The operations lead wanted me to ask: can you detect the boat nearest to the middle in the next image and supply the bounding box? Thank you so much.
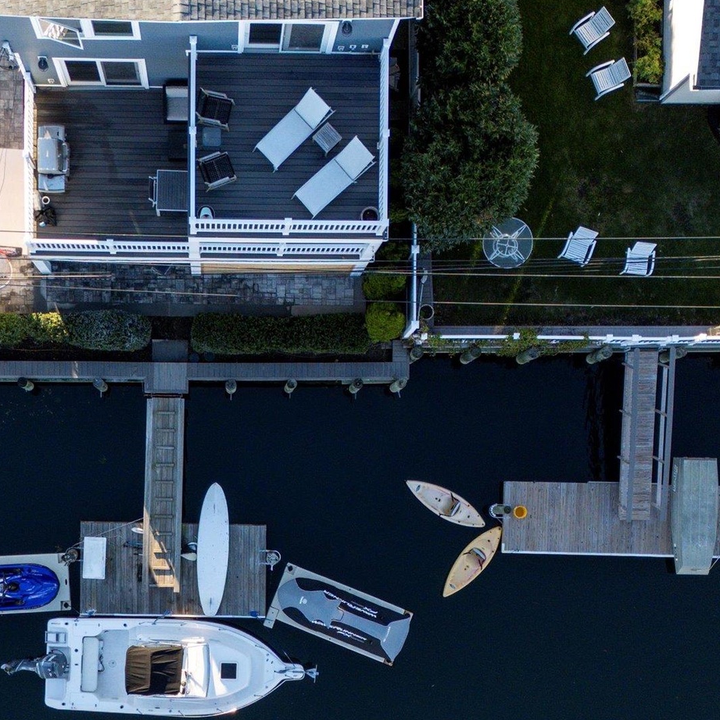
[406,480,485,526]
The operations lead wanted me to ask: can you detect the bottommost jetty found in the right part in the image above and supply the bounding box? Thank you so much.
[486,480,674,559]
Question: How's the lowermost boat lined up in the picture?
horizontally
